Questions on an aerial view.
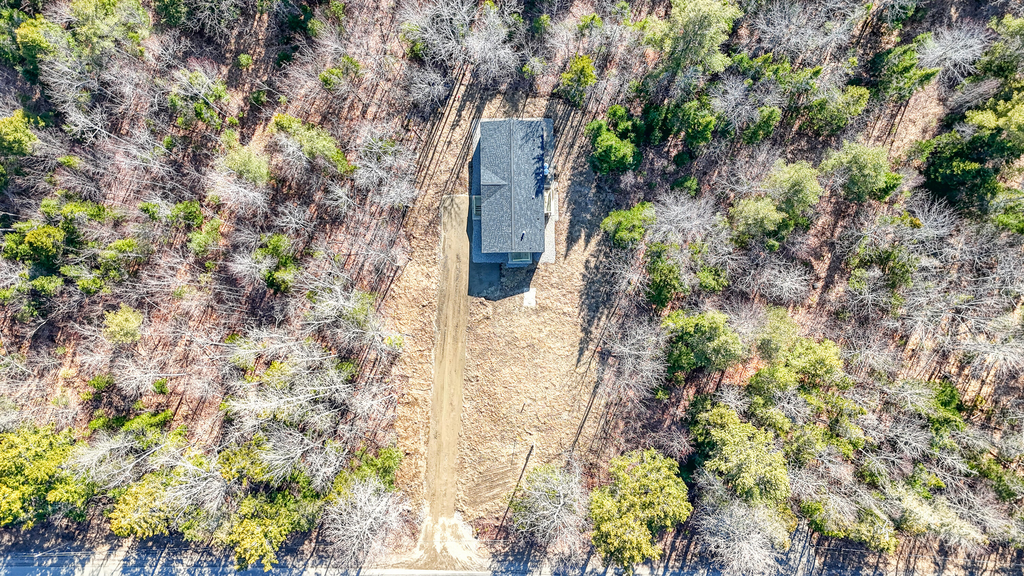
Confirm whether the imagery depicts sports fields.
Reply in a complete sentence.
No, the picture doesn't show any sports field.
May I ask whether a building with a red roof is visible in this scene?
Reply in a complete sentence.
No, the frame has no building with a red roof in it.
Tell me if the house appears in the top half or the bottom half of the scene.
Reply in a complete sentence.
It is in the top half that the house appears.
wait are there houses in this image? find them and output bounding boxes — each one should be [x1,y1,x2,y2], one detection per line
[480,120,545,253]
